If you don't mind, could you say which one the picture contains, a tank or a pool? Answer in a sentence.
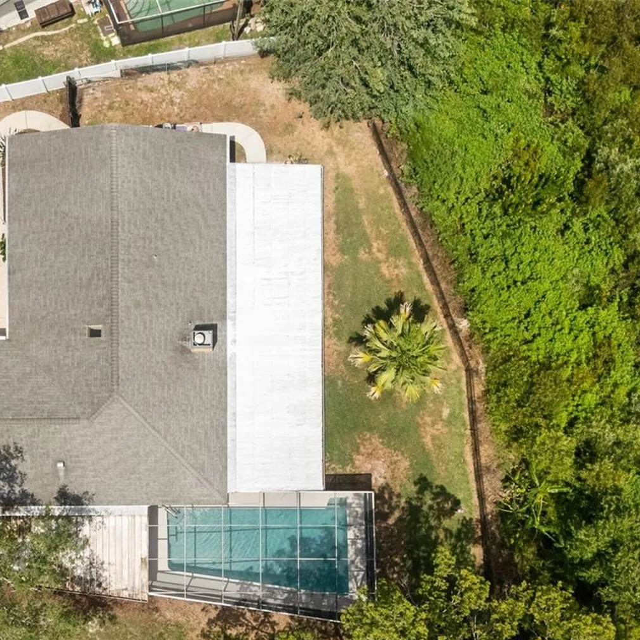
It is a pool that can be seen here.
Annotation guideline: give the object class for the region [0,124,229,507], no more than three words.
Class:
house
